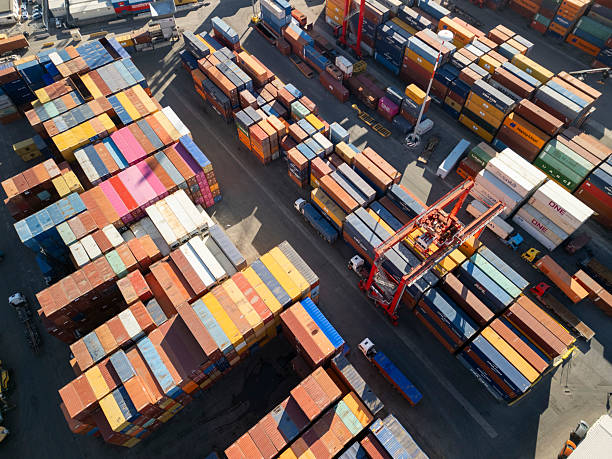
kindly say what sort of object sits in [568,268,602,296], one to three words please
shipping container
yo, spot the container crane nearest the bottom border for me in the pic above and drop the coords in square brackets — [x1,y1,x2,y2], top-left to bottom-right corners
[356,174,510,325]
